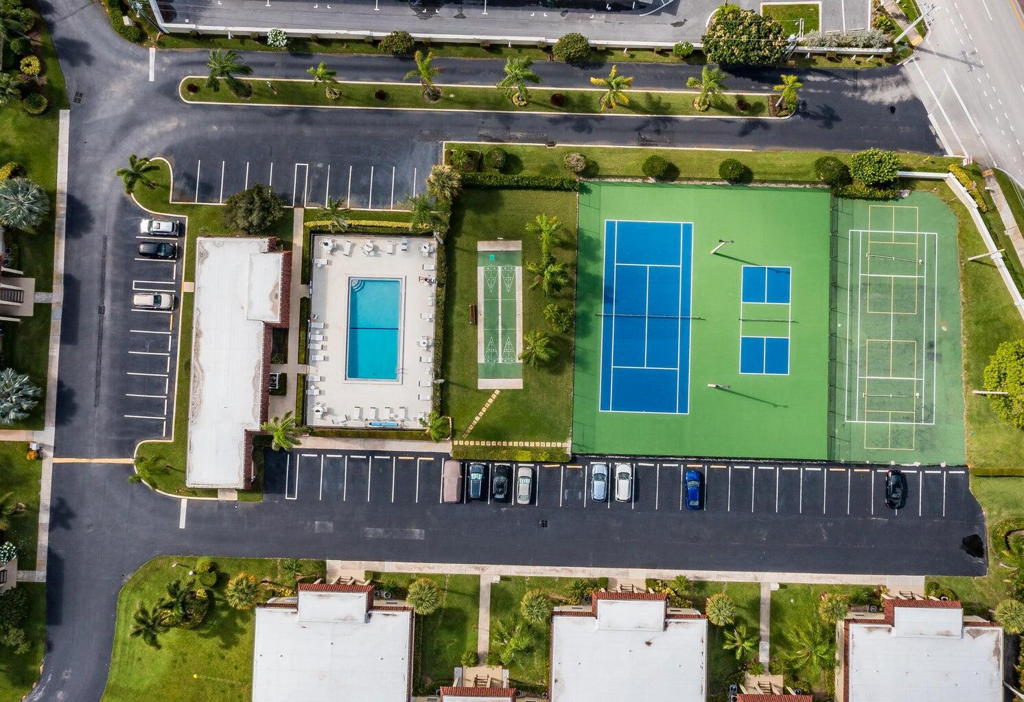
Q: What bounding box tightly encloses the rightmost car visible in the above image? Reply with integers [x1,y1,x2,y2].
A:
[884,469,904,509]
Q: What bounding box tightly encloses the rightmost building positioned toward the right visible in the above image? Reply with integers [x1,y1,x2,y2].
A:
[833,585,1010,702]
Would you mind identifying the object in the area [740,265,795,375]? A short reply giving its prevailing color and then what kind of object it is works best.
blue sports court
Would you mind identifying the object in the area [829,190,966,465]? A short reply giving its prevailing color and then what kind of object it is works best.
green tennis court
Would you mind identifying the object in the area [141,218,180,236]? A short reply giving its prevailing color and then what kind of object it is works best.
white car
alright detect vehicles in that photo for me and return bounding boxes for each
[884,469,904,509]
[684,470,702,510]
[133,292,174,311]
[589,462,608,502]
[516,466,534,505]
[492,464,510,504]
[467,463,485,500]
[615,463,633,502]
[138,241,178,259]
[141,218,180,236]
